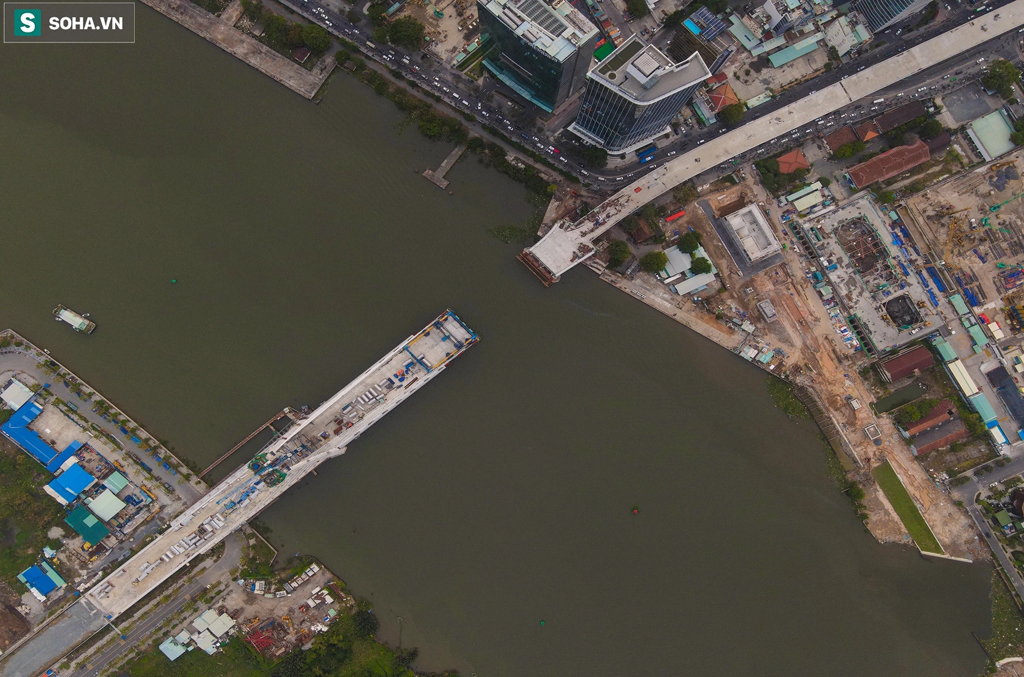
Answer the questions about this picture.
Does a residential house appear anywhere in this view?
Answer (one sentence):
Yes, the frame does contain a residential house.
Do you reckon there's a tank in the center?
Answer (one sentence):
No, there's no tank to be seen in the center.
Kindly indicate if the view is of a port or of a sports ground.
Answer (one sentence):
The picture captures a port.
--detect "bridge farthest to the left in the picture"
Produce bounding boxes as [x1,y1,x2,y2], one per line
[85,312,478,619]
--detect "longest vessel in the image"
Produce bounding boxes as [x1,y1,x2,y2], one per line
[52,304,98,335]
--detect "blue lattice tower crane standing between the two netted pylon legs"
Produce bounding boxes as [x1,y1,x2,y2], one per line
[215,443,306,505]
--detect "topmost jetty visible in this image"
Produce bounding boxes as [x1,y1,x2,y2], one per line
[423,146,465,189]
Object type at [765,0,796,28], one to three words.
house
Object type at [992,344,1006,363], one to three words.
vehicle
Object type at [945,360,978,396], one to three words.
building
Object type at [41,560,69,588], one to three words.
shed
